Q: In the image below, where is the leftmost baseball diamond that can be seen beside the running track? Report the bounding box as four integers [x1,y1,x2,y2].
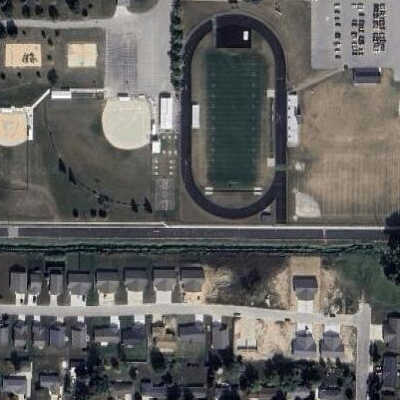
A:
[101,97,152,150]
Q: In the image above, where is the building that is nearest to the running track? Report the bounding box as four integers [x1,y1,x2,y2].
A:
[158,100,172,132]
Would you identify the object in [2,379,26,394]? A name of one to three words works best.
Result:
house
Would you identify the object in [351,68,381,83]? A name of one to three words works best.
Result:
building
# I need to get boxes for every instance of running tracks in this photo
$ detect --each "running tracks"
[179,11,288,222]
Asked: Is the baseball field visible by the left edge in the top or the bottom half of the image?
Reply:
top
